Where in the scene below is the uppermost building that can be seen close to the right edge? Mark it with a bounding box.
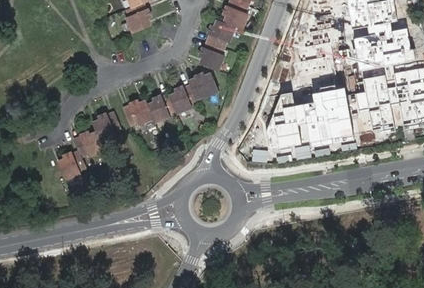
[348,0,424,79]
